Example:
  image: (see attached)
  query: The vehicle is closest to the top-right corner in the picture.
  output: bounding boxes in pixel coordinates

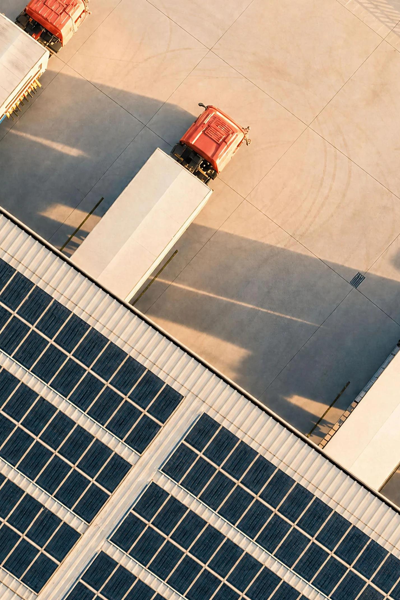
[167,99,256,194]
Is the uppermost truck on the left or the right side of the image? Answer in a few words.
left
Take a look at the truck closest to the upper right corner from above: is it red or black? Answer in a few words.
red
